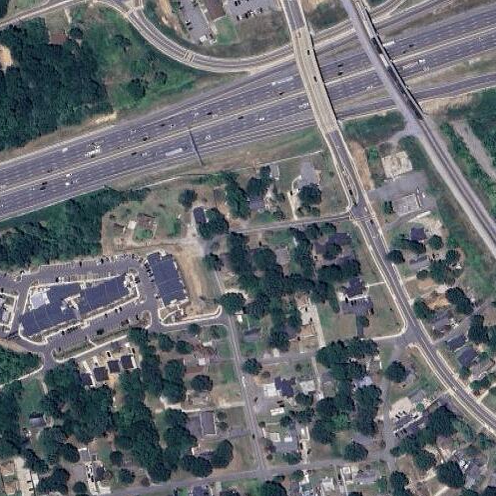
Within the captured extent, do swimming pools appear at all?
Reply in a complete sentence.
No, I can't see a single swimming pool in this photo.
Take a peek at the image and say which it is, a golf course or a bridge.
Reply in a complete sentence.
Of the two, only a bridge appears.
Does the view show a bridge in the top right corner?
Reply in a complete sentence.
Yes, a bridge can be seen in the top right corner.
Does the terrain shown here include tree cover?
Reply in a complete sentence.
Yes, tree cover shows up in the scene.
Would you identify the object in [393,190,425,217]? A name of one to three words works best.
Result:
building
